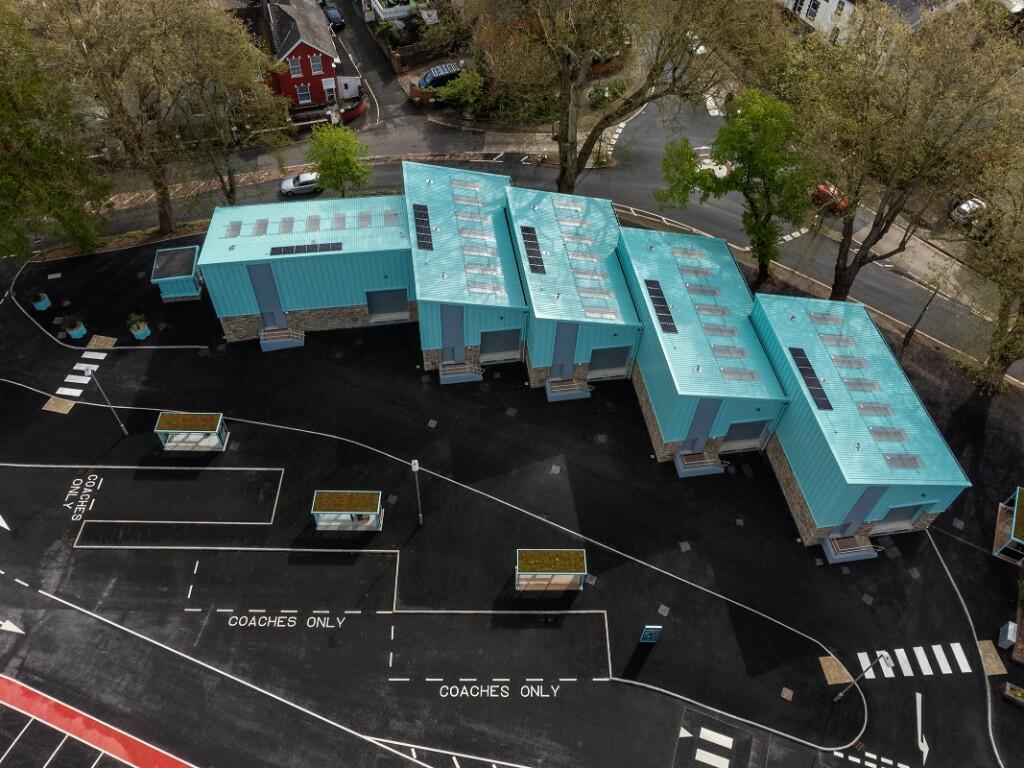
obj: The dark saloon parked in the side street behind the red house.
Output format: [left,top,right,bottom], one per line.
[319,0,348,24]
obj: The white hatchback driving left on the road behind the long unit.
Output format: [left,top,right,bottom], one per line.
[278,171,325,198]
